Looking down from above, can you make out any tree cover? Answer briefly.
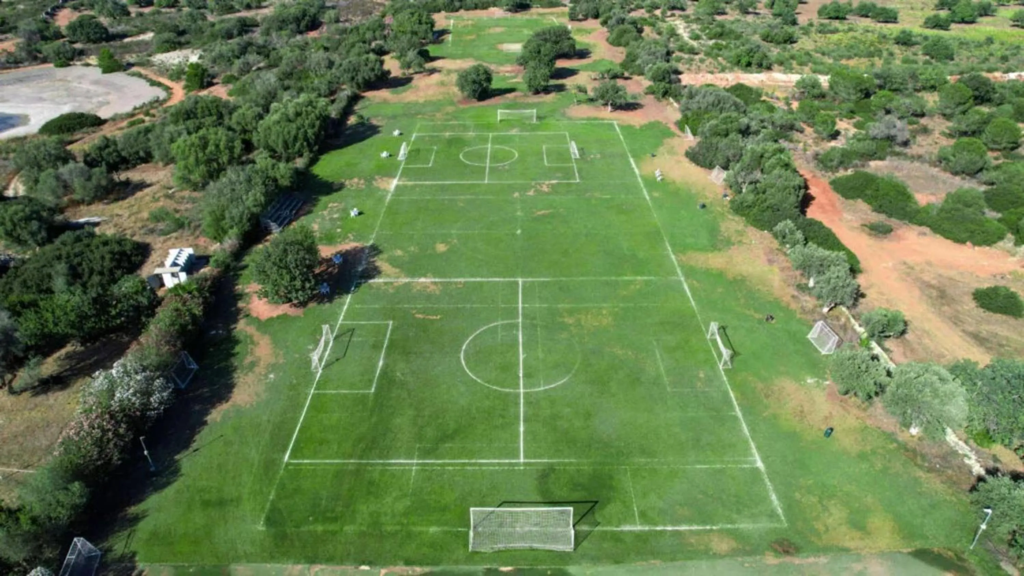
Yes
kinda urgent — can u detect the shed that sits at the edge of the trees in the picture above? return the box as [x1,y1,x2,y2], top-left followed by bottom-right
[154,245,197,288]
